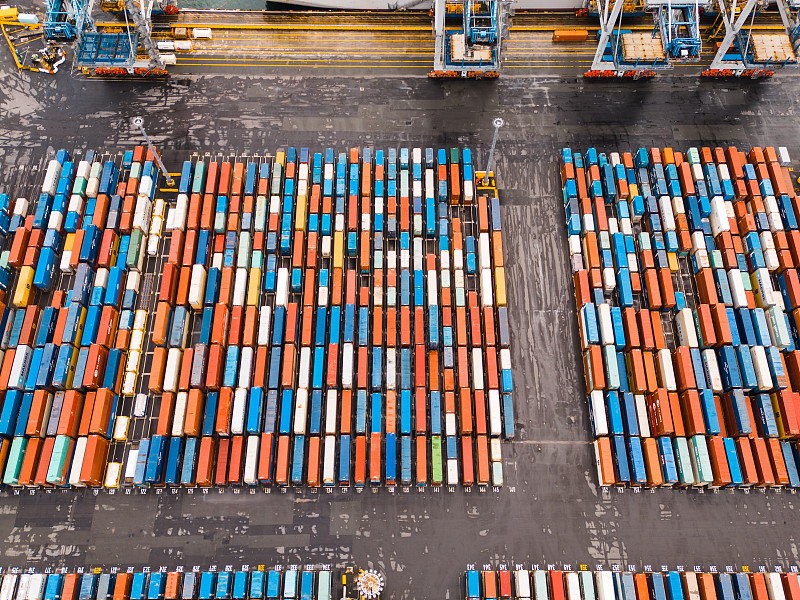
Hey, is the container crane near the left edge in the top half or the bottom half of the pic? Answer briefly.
top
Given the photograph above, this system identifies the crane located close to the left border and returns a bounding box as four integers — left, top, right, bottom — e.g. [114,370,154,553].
[39,0,180,79]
